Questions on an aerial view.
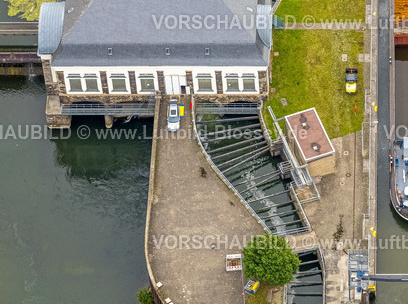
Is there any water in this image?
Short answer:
Yes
